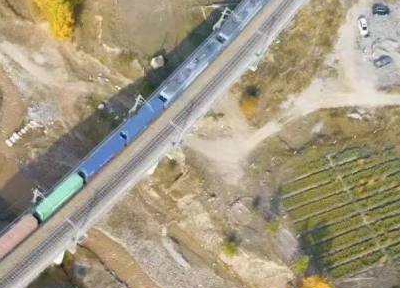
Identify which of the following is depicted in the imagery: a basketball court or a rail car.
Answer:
rail car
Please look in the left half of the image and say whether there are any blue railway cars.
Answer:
Yes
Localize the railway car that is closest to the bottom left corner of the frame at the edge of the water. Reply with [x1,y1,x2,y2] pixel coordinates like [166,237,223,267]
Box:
[0,211,39,262]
